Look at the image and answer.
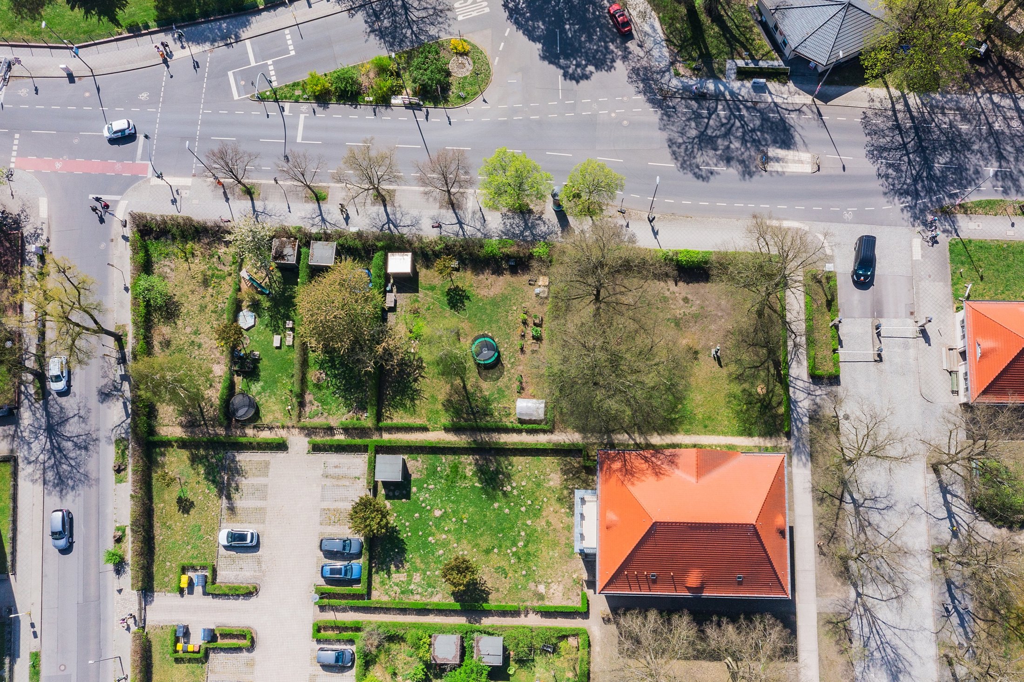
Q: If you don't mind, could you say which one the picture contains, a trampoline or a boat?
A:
trampoline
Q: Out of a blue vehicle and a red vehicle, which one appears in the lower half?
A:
blue vehicle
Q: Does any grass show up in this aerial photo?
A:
Yes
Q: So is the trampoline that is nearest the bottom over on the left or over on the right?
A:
left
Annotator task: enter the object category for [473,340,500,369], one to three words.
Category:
trampoline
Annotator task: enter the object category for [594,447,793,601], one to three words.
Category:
house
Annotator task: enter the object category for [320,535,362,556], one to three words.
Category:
car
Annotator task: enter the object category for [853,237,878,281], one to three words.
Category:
vehicle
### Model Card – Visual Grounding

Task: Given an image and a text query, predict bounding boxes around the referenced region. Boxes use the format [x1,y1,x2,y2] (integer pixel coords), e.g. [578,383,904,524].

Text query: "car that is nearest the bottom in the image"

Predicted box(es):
[316,647,354,668]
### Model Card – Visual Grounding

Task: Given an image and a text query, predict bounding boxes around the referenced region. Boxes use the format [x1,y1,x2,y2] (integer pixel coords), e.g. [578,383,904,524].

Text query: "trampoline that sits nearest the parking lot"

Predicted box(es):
[227,395,259,422]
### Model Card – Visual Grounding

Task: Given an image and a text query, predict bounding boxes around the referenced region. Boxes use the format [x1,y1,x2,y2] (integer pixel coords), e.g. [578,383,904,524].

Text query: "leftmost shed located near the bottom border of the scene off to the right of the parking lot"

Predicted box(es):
[432,634,460,664]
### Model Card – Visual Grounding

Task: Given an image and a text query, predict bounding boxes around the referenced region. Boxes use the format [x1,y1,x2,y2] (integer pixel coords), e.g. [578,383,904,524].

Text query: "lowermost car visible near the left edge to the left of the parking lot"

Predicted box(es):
[50,510,72,548]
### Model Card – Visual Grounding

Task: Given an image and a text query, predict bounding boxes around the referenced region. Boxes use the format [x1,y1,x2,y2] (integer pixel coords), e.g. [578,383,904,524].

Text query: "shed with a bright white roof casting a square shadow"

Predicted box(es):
[387,253,412,276]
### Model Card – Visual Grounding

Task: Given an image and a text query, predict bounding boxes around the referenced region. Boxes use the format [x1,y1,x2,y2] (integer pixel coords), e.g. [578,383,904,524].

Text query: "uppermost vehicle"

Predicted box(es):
[609,3,633,34]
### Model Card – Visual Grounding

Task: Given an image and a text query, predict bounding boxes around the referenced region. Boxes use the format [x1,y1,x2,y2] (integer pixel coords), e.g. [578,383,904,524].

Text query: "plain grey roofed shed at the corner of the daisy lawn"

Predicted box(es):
[375,455,403,481]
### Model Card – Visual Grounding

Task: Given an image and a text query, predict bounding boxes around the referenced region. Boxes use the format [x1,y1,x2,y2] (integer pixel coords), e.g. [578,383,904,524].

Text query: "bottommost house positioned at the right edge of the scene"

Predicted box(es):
[937,300,1024,409]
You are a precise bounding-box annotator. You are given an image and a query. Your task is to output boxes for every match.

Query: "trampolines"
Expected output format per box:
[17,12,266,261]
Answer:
[227,395,259,422]
[473,340,500,369]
